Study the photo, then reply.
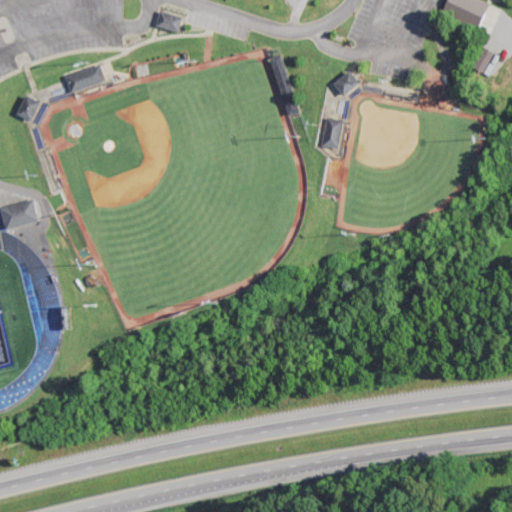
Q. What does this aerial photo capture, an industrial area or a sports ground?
sports ground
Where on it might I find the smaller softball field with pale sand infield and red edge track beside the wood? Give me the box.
[337,90,488,236]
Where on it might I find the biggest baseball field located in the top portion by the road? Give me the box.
[42,50,306,328]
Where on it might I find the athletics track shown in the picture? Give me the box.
[0,229,62,410]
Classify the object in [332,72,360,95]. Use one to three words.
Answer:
building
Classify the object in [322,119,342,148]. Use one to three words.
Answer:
building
